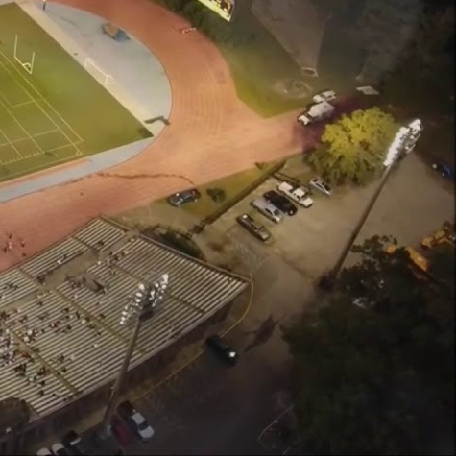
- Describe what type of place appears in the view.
sports ground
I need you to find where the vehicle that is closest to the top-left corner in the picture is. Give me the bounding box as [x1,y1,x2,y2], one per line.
[172,187,198,203]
